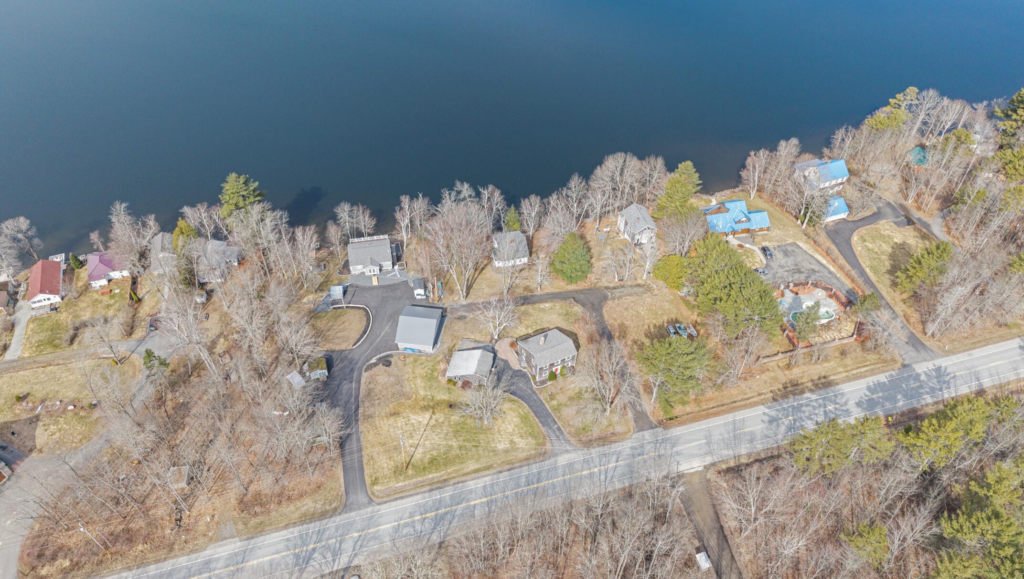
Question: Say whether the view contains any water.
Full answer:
Yes, there is water in the image.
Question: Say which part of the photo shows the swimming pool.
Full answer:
You can find the swimming pool in the right area of the picture.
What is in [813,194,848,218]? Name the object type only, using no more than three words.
building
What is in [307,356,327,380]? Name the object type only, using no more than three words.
shed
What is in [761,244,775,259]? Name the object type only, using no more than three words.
car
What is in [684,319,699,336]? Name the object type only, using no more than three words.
boat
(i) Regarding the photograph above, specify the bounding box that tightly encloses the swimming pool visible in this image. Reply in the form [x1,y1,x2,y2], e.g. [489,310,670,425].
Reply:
[790,299,836,325]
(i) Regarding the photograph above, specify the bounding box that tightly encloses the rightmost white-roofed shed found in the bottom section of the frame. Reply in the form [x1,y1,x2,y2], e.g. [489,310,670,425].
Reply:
[693,550,716,575]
